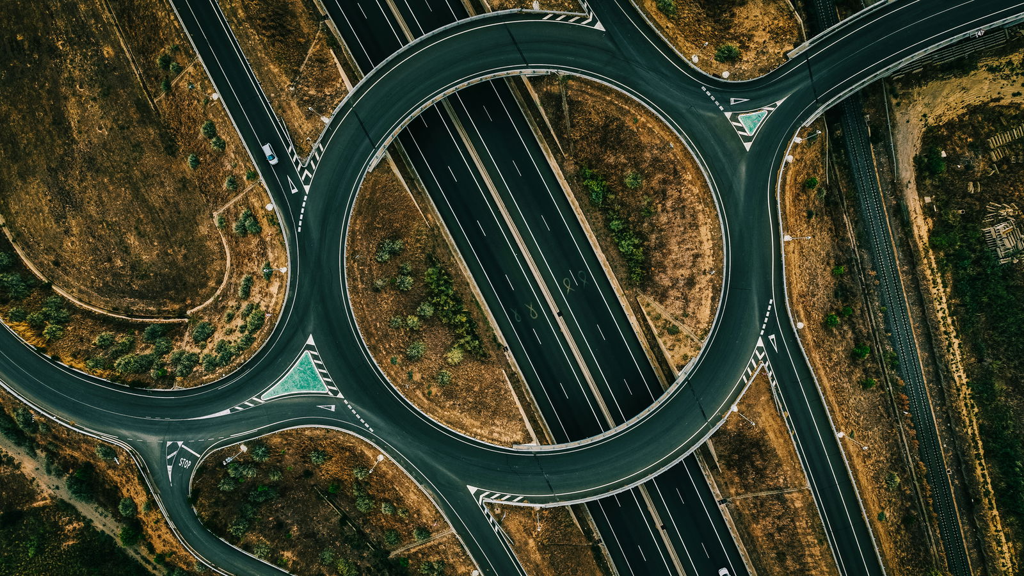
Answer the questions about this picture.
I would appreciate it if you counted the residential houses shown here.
0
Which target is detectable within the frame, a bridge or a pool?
bridge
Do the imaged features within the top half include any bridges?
Yes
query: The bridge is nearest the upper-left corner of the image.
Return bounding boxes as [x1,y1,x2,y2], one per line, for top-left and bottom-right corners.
[333,6,551,165]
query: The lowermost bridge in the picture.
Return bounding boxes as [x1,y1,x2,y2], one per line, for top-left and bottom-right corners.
[511,354,729,510]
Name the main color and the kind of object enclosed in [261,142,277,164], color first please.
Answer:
white car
